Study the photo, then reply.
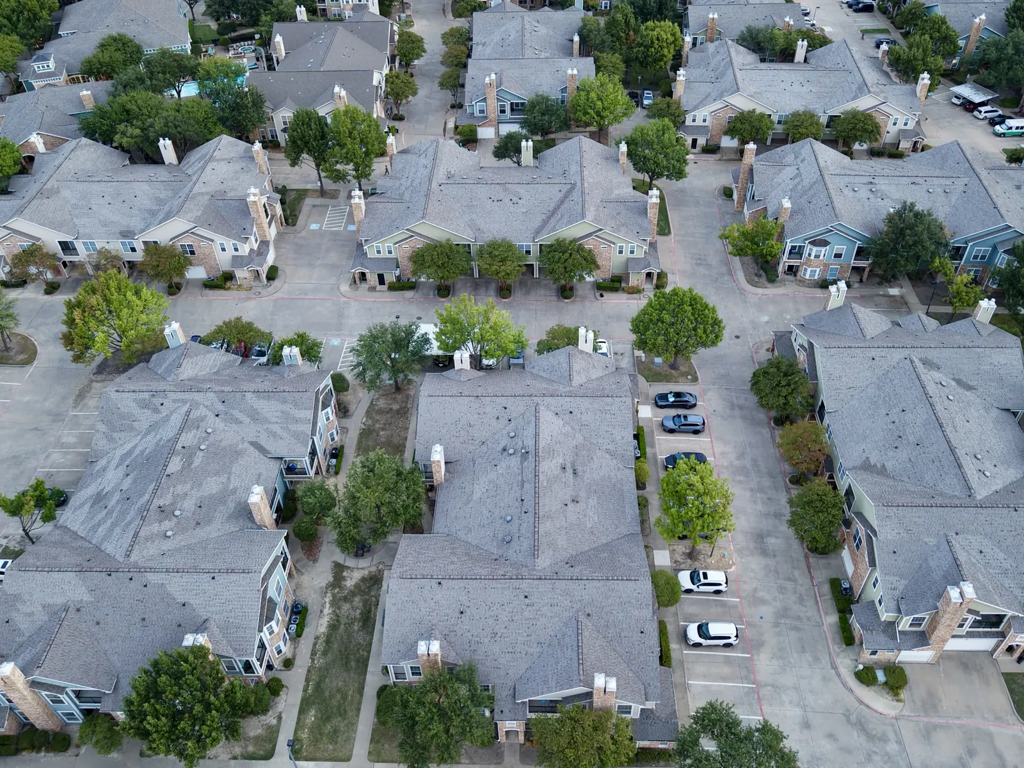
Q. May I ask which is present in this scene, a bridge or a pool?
pool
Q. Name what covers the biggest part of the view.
buildings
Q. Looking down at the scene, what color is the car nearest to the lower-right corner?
white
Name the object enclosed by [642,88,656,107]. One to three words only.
car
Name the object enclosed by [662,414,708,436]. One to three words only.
car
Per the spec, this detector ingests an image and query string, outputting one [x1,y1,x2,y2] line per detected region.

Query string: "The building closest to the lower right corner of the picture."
[771,284,1024,663]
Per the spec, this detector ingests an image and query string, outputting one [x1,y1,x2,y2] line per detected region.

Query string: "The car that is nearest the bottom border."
[686,623,744,653]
